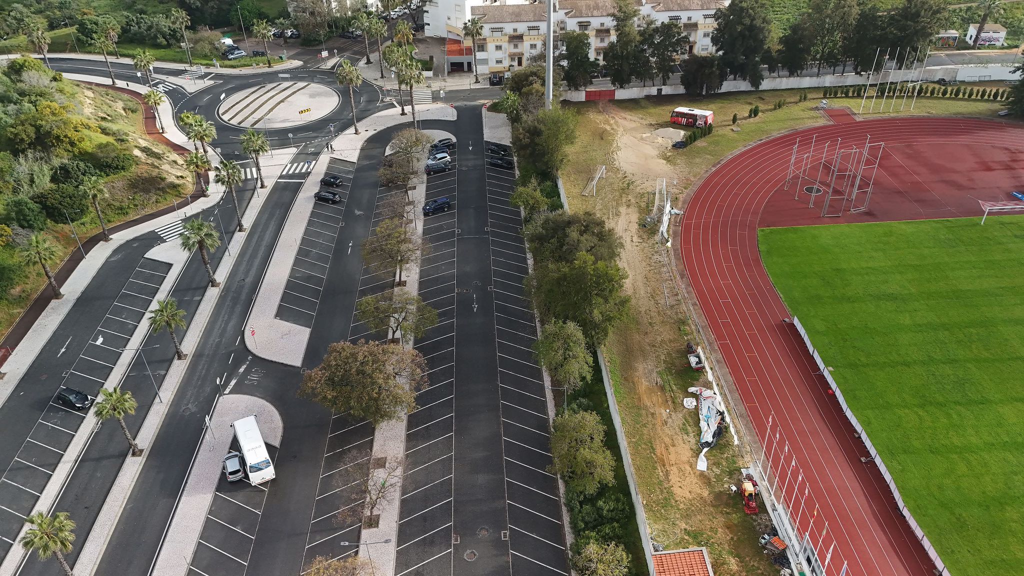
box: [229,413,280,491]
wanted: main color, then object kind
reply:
white bus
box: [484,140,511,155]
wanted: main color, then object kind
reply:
black car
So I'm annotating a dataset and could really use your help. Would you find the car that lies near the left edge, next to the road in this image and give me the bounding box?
[50,384,93,411]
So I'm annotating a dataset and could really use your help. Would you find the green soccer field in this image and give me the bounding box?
[762,214,1024,576]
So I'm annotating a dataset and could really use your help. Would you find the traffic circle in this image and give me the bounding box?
[218,81,338,128]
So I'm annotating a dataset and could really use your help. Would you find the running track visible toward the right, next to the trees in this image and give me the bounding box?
[667,106,1024,576]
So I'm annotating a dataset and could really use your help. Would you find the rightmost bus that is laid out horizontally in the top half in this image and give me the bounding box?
[667,103,714,127]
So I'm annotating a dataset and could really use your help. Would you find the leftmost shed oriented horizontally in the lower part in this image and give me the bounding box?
[651,545,716,576]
